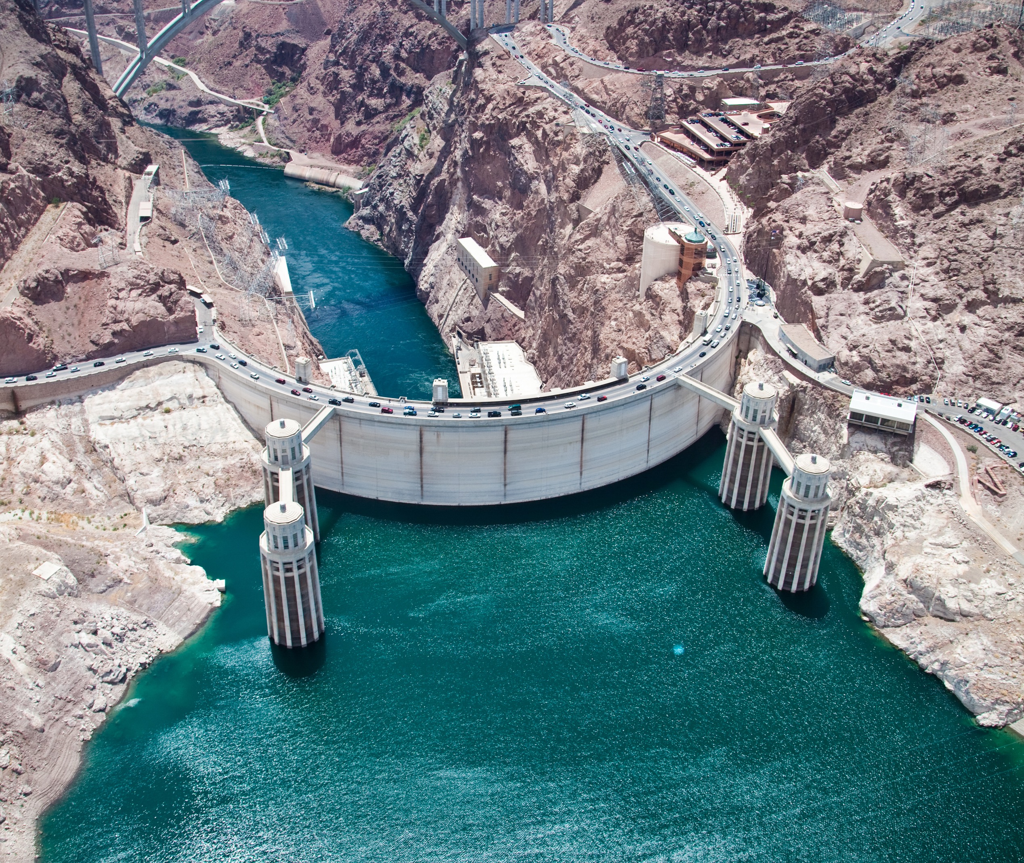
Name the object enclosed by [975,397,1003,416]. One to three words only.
building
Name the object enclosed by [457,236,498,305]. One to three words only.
building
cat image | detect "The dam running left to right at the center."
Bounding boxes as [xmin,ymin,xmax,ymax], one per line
[180,319,739,502]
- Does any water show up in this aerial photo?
Yes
